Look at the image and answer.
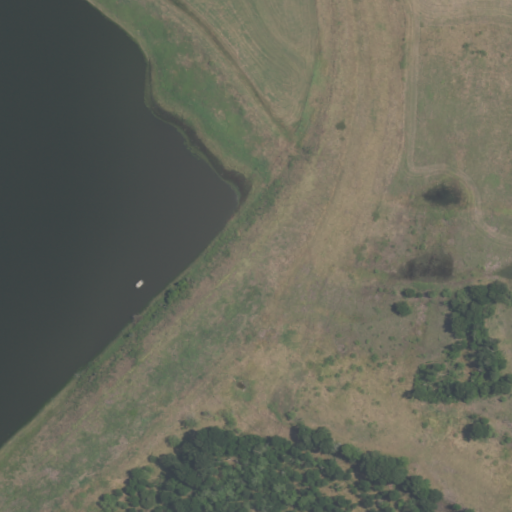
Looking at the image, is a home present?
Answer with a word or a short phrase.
No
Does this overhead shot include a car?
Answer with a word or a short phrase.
No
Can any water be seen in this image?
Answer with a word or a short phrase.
Yes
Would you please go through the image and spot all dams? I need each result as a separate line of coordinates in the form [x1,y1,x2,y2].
[0,140,290,512]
